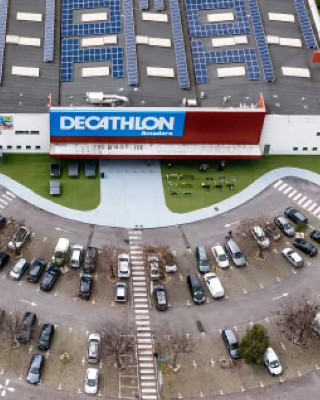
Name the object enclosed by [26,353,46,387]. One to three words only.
car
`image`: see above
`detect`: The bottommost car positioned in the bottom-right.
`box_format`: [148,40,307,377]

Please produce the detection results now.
[261,349,283,376]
